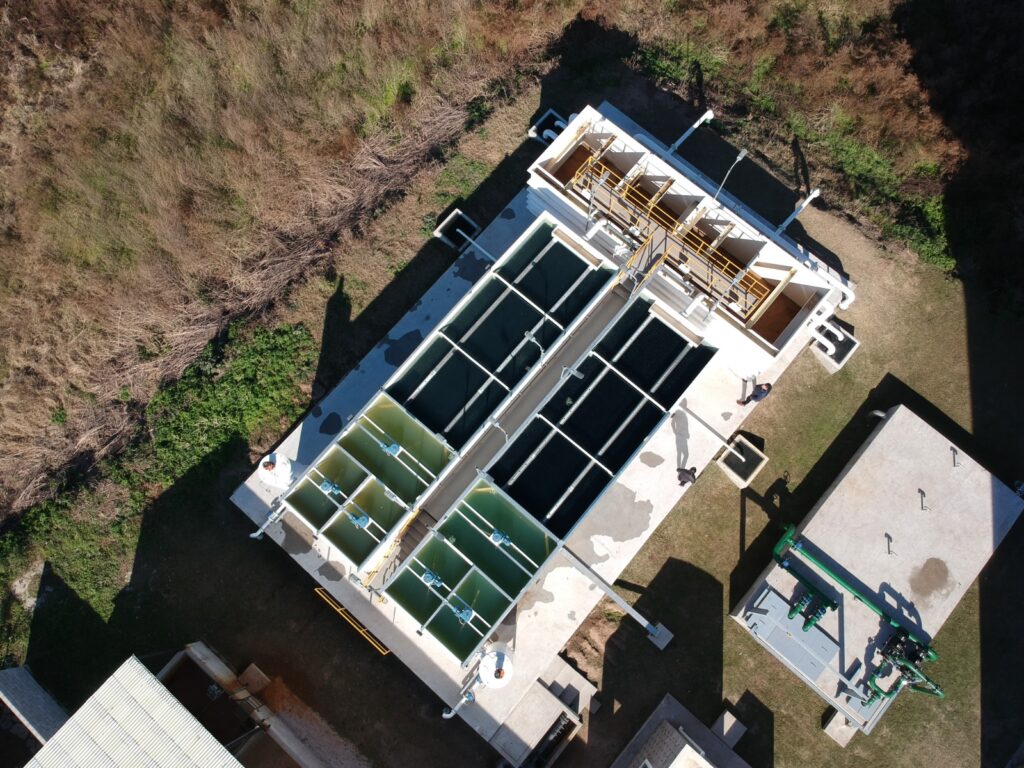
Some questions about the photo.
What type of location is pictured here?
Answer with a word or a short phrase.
industrial area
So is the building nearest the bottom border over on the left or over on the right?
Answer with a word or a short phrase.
right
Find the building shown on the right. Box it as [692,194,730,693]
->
[633,721,726,768]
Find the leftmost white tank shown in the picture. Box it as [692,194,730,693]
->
[259,454,308,492]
